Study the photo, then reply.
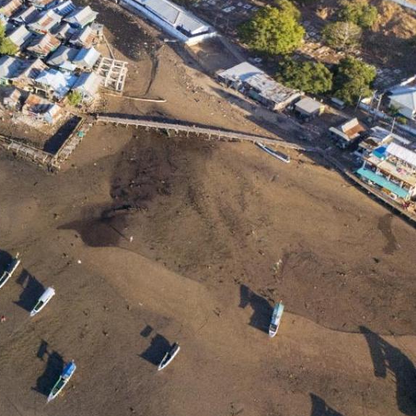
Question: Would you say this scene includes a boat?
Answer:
Yes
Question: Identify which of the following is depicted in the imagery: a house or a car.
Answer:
house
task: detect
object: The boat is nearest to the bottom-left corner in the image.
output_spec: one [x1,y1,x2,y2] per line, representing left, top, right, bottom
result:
[49,350,81,398]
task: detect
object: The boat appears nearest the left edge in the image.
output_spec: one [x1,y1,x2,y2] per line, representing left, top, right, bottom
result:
[0,248,24,285]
